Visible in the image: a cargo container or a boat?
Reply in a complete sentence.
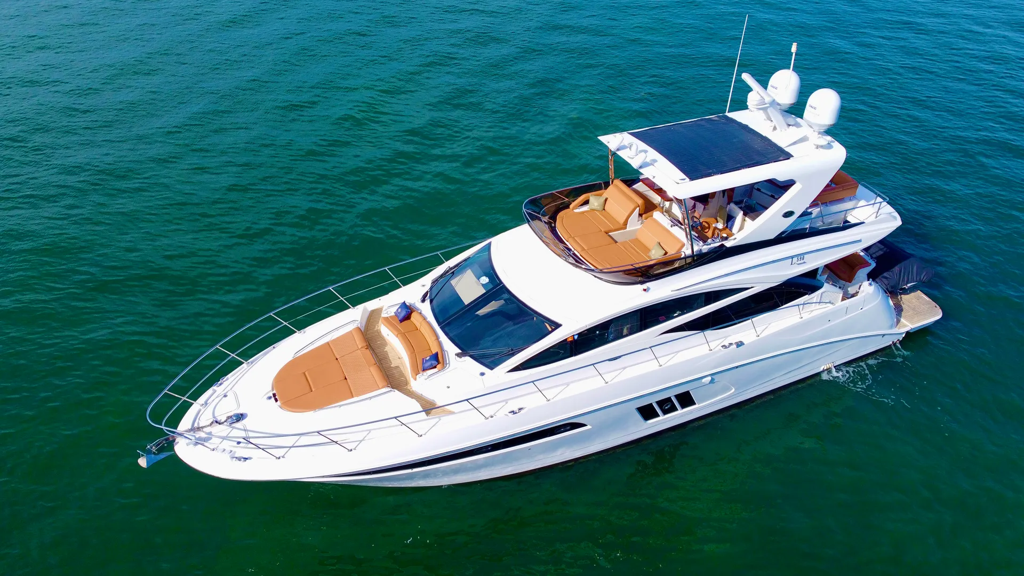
It is a boat that can be seen here.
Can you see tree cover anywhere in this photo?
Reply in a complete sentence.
No, there's no tree cover in this view.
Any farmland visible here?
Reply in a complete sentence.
No, no farmland is visible.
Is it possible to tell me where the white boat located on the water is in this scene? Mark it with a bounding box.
[146,15,940,487]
